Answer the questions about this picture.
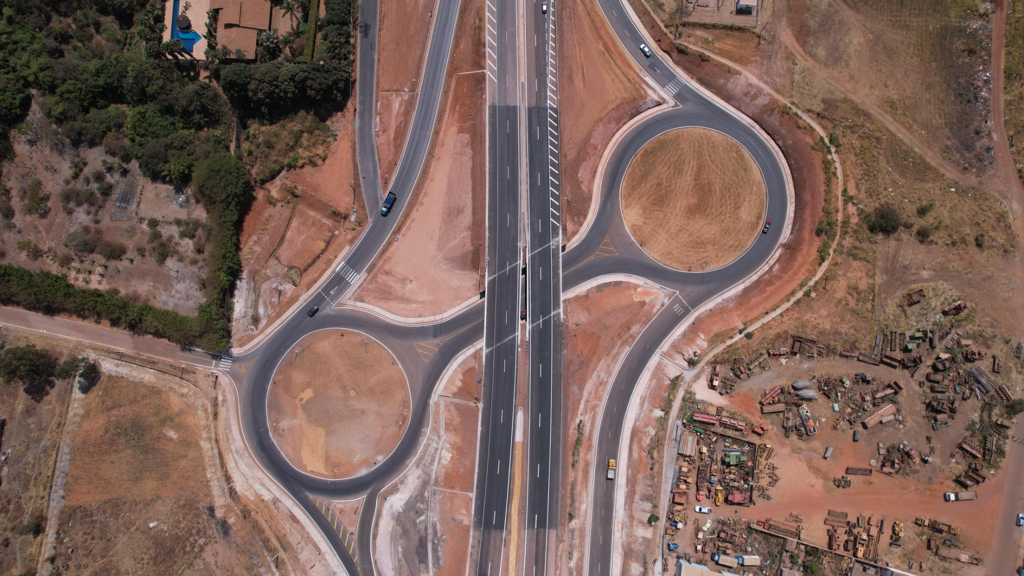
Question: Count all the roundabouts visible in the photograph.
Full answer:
My tally gives 2 roundabouts in this view.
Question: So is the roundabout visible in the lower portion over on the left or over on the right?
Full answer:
It is on the left.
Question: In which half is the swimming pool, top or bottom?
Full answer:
The swimming pool is in the top half of the image.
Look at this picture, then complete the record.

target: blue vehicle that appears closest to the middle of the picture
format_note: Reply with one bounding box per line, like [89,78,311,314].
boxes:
[381,191,396,216]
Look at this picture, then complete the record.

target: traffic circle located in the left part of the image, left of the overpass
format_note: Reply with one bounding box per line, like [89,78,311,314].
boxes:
[243,306,431,502]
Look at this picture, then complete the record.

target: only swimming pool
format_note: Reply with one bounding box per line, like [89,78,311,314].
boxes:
[170,0,203,54]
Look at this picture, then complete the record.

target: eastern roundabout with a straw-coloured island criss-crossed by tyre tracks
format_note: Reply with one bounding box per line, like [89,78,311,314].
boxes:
[600,103,789,294]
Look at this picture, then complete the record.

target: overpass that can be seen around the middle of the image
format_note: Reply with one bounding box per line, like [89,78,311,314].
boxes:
[479,227,571,358]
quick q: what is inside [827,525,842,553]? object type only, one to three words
work vehicle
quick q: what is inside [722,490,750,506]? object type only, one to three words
work vehicle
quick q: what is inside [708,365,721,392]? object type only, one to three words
vehicle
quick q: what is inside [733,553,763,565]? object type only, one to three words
vehicle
